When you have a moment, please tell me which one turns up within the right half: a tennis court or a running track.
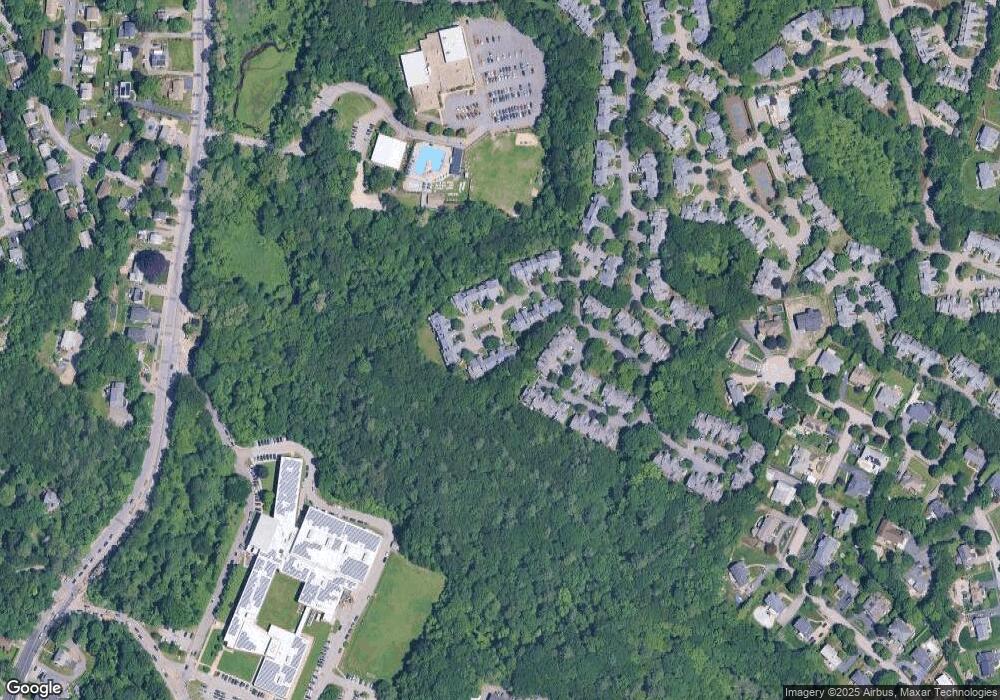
tennis court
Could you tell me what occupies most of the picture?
trees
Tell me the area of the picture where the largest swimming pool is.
top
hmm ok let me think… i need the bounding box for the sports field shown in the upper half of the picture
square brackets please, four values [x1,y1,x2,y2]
[465,131,544,214]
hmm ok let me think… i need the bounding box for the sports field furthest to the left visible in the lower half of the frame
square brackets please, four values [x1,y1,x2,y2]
[340,552,445,681]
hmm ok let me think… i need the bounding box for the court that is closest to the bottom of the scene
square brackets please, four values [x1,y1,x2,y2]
[748,162,776,209]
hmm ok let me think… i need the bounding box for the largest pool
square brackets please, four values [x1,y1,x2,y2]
[405,143,452,192]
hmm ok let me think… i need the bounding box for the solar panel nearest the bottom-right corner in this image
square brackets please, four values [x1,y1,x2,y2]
[863,449,886,471]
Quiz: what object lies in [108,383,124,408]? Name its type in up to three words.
house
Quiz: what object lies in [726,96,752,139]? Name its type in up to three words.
tennis court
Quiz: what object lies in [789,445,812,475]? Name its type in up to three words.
house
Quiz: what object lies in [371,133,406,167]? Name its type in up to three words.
building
